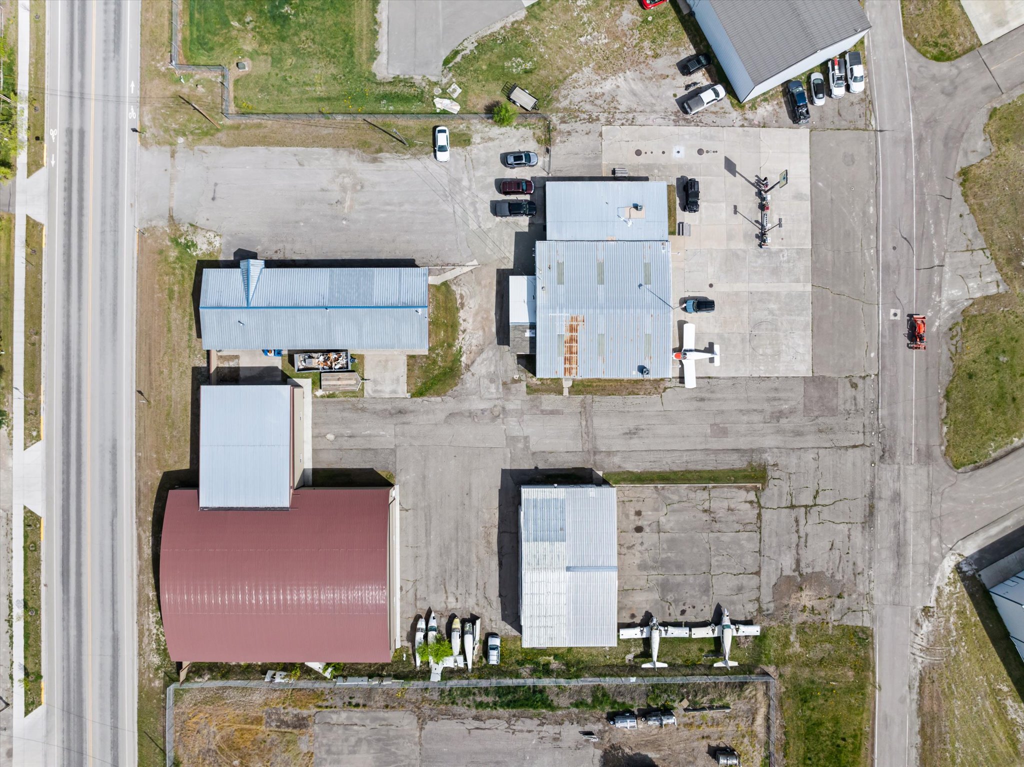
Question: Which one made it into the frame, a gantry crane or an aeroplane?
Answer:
aeroplane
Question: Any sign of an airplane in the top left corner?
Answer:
No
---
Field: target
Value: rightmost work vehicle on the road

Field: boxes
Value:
[914,317,931,348]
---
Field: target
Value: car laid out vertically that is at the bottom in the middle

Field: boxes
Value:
[486,634,502,666]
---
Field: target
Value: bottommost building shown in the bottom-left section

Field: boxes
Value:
[160,486,396,662]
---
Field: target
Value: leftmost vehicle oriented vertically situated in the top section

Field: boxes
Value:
[434,127,450,163]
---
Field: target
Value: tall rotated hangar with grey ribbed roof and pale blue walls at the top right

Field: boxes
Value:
[686,0,874,103]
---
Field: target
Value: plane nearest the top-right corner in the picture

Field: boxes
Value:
[674,323,725,389]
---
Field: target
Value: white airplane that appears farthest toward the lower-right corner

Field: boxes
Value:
[692,608,760,673]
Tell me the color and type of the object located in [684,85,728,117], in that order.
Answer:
white truck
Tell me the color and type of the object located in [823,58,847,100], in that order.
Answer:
white truck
